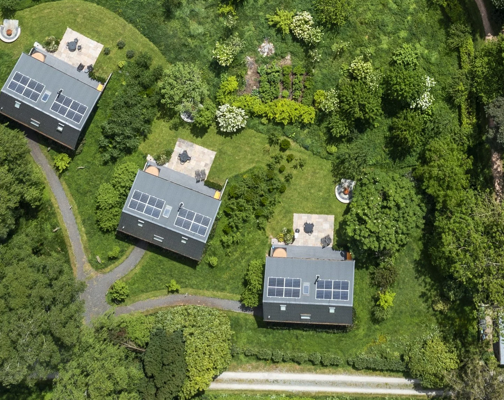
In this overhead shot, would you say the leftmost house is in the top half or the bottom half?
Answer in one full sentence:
The top half of the photo is where the leftmost house is.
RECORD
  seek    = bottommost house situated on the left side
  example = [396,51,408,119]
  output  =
[117,160,230,261]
